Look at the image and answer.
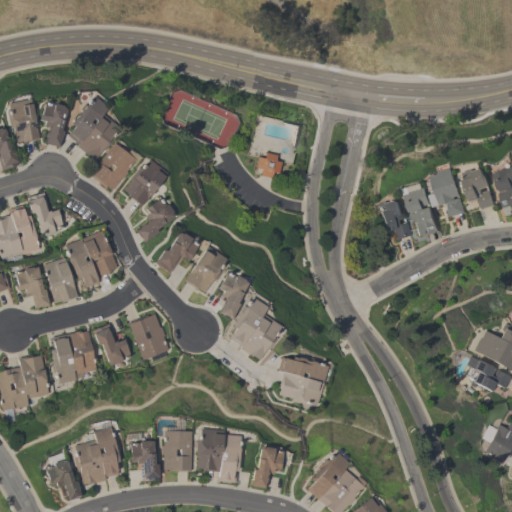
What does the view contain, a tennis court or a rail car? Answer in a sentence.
The one in the frame is a tennis court.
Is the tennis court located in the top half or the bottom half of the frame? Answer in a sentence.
You can find the tennis court in the top half.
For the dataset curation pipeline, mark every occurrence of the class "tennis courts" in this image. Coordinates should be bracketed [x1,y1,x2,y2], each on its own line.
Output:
[166,90,240,148]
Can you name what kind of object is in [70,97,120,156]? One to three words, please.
house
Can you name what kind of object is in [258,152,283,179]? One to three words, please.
building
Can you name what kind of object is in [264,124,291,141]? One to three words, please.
swimming pool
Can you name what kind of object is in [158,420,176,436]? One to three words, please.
swimming pool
